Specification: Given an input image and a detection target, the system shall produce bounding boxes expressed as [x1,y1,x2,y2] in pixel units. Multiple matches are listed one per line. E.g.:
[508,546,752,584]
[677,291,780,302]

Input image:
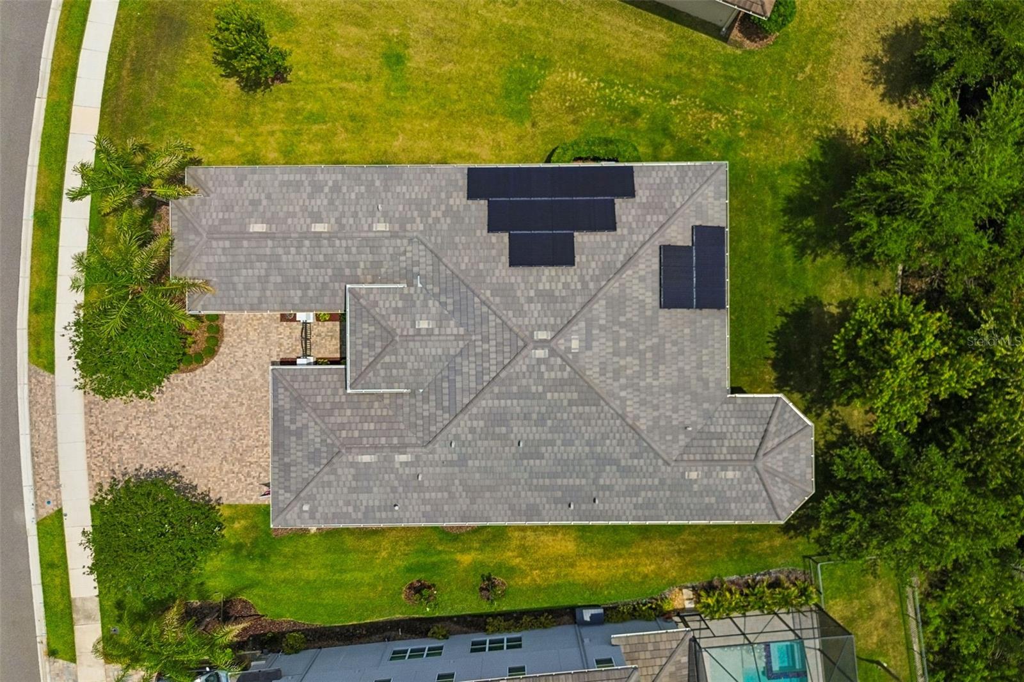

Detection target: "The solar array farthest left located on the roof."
[465,165,636,264]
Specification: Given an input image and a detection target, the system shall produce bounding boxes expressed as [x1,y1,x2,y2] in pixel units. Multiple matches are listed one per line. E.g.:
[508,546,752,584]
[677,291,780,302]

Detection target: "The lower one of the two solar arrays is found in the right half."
[662,225,727,310]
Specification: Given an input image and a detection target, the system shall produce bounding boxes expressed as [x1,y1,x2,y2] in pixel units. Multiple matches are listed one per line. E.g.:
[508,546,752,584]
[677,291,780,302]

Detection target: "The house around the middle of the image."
[166,160,815,530]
